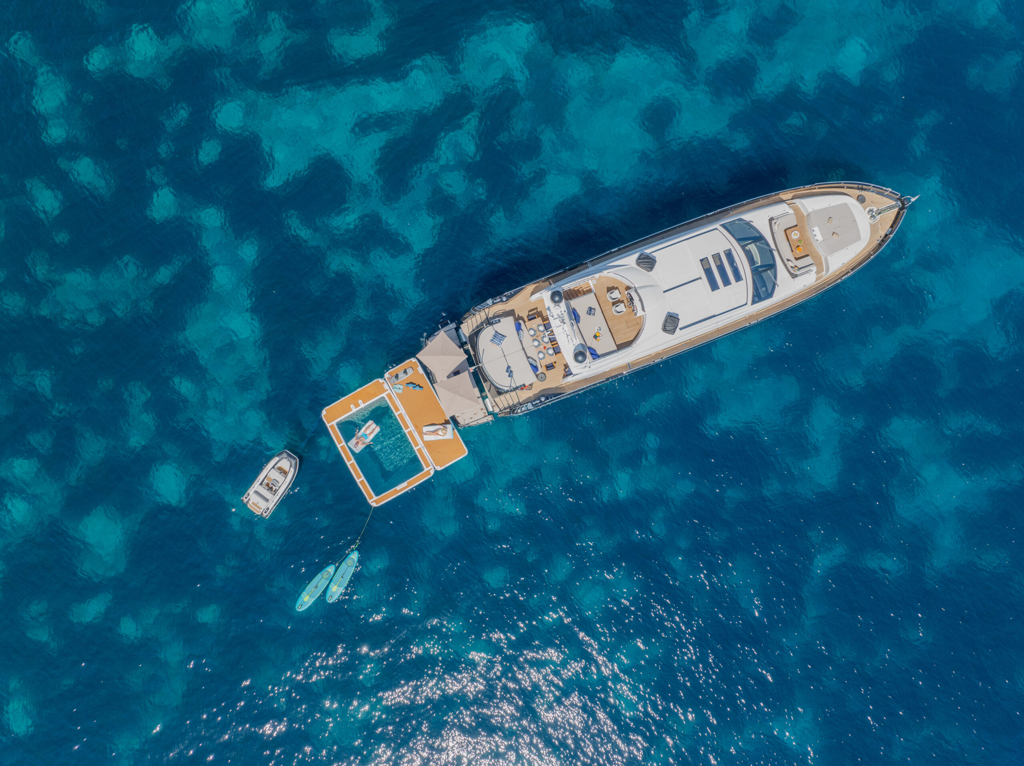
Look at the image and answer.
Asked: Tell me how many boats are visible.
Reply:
2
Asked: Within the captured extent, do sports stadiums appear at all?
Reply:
No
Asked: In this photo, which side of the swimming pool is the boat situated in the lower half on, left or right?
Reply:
to the left of it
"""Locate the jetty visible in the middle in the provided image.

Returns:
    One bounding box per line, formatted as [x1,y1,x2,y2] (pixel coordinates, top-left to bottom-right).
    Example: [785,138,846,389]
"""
[385,358,468,471]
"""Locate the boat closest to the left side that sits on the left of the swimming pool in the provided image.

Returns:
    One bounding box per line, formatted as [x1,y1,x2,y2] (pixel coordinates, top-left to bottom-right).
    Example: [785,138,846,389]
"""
[242,449,299,519]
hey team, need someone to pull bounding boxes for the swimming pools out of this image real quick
[321,378,435,506]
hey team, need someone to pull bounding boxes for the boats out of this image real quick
[425,181,919,428]
[242,449,299,519]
